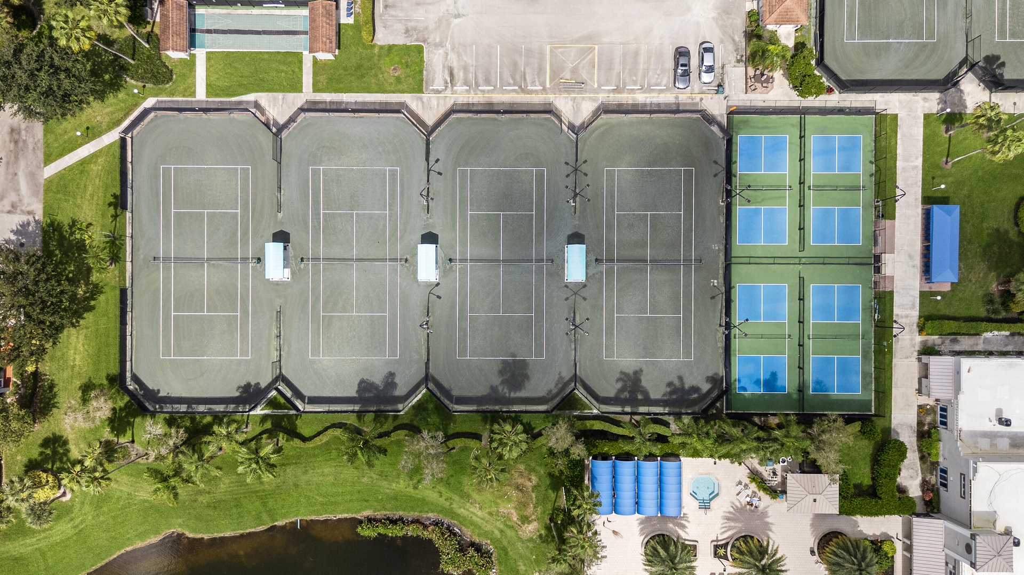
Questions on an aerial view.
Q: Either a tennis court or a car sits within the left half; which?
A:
tennis court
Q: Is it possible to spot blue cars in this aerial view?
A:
No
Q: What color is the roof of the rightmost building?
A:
white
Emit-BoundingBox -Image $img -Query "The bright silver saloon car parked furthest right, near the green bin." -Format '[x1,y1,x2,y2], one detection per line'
[698,42,717,83]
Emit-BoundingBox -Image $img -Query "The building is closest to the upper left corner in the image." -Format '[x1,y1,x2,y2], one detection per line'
[159,0,194,57]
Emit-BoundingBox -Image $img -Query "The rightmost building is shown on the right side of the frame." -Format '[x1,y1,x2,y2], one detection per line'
[901,356,1024,575]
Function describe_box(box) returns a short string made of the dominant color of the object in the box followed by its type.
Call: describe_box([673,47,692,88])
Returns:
gray car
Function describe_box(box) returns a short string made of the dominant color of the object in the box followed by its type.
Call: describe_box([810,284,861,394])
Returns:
blue sports court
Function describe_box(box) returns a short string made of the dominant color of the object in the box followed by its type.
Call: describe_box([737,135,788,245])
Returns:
blue sports court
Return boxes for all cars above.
[698,42,717,83]
[673,47,692,88]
